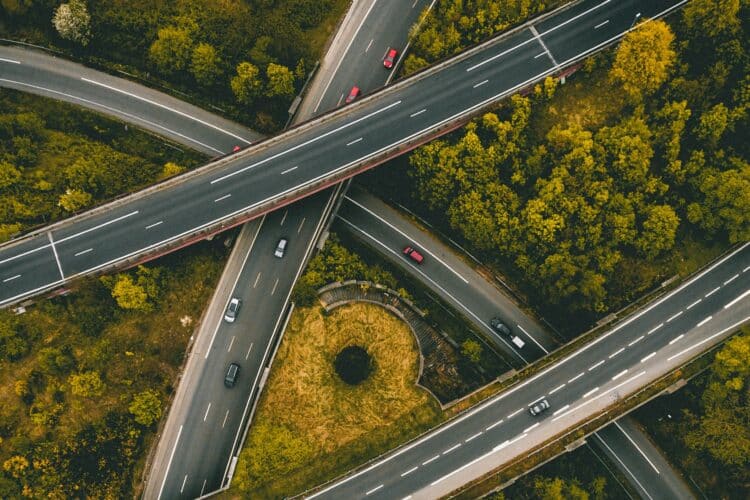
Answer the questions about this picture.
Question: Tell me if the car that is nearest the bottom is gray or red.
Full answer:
The color of the car that is nearest the bottom is gray.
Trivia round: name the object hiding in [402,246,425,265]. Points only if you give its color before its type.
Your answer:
red car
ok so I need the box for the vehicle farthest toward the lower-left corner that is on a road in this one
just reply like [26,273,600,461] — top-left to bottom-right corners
[223,362,241,388]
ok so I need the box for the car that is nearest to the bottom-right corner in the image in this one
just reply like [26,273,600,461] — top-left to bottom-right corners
[527,398,552,418]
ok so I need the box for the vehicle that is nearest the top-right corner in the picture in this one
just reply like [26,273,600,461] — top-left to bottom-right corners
[382,49,398,69]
